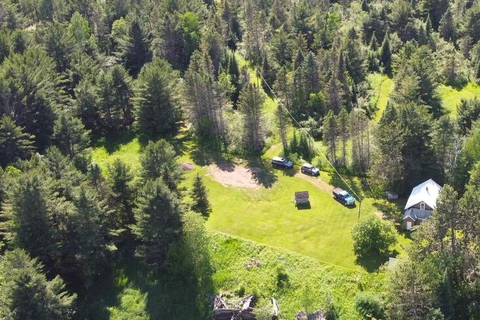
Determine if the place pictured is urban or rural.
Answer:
rural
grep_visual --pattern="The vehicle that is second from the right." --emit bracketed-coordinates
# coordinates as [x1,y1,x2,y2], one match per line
[299,162,321,176]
